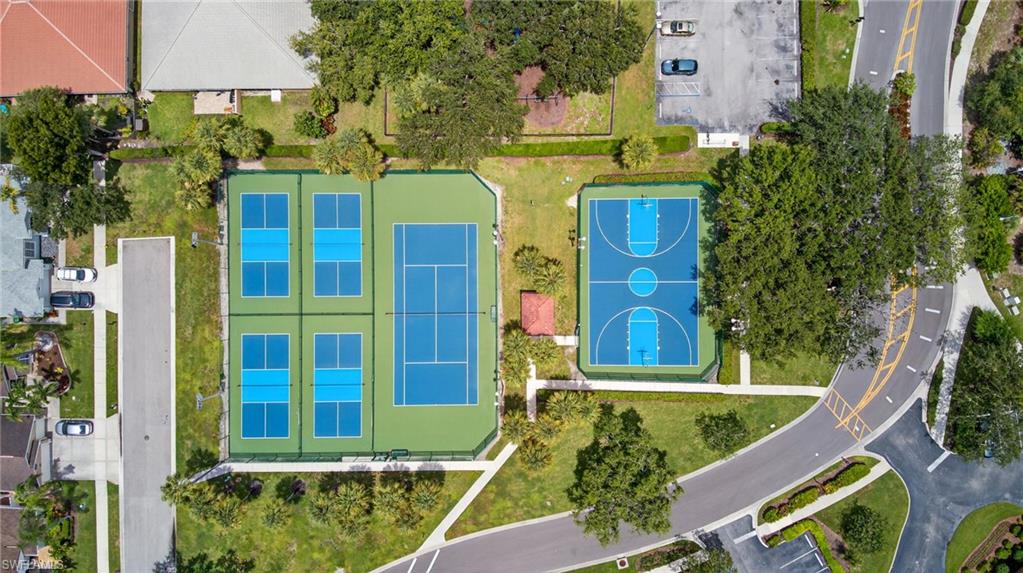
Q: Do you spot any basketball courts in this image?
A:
Yes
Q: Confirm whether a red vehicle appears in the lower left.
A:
No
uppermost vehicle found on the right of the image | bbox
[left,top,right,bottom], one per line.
[660,17,697,35]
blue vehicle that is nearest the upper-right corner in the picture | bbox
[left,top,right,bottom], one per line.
[661,55,699,74]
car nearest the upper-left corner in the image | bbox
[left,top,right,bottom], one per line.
[57,266,97,284]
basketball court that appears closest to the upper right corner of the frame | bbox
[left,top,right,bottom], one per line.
[579,186,716,376]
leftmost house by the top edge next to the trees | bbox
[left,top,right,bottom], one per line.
[0,0,134,96]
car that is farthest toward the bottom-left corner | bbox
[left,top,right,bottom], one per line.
[53,420,92,438]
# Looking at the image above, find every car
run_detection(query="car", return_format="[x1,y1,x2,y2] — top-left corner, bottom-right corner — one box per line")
[661,55,699,74]
[50,290,93,309]
[53,420,92,438]
[660,17,697,35]
[57,266,97,284]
